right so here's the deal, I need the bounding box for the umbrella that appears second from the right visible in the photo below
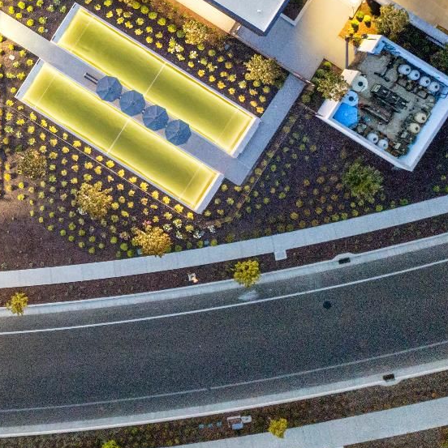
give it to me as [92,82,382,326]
[141,105,168,130]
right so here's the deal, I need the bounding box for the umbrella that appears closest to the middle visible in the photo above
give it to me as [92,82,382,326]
[165,120,190,144]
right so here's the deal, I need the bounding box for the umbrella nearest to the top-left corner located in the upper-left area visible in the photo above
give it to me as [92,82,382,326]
[96,76,121,101]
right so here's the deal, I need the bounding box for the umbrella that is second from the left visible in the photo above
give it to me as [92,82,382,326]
[120,90,145,115]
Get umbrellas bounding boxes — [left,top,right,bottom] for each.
[141,105,168,130]
[96,76,121,101]
[165,120,190,144]
[120,90,145,115]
